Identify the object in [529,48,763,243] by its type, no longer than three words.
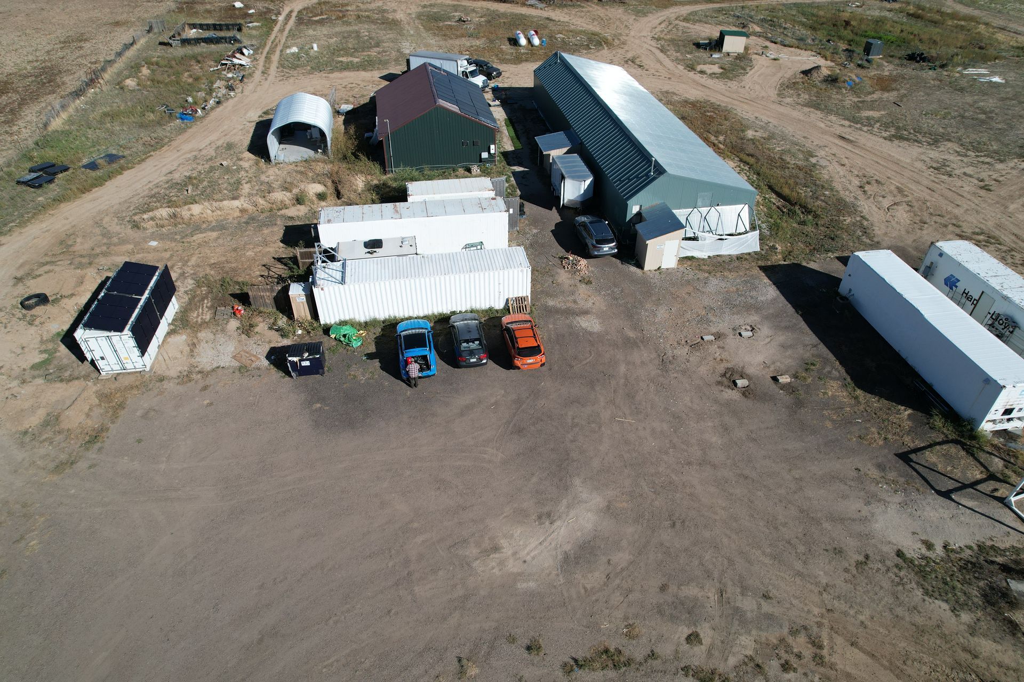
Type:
building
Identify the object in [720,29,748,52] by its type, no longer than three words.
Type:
shed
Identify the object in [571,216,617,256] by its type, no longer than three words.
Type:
car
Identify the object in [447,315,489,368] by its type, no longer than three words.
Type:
car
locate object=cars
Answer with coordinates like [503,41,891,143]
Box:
[571,216,617,256]
[395,321,438,380]
[504,314,549,368]
[447,315,489,368]
[464,60,502,84]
